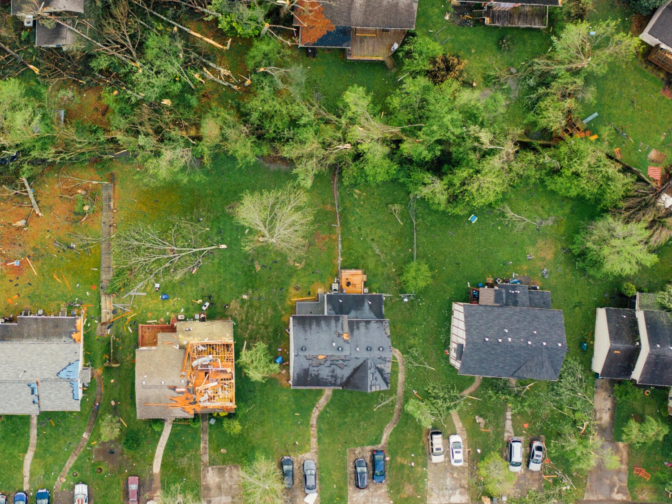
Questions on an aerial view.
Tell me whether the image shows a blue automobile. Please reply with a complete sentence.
Yes, there is a blue automobile in the image.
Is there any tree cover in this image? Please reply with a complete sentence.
Yes, there's tree cover in this view.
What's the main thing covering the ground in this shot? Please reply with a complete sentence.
Most of the picture is covered by grass.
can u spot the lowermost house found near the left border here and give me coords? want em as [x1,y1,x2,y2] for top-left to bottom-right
[0,316,91,416]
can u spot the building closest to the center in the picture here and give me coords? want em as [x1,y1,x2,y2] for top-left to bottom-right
[290,270,395,394]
